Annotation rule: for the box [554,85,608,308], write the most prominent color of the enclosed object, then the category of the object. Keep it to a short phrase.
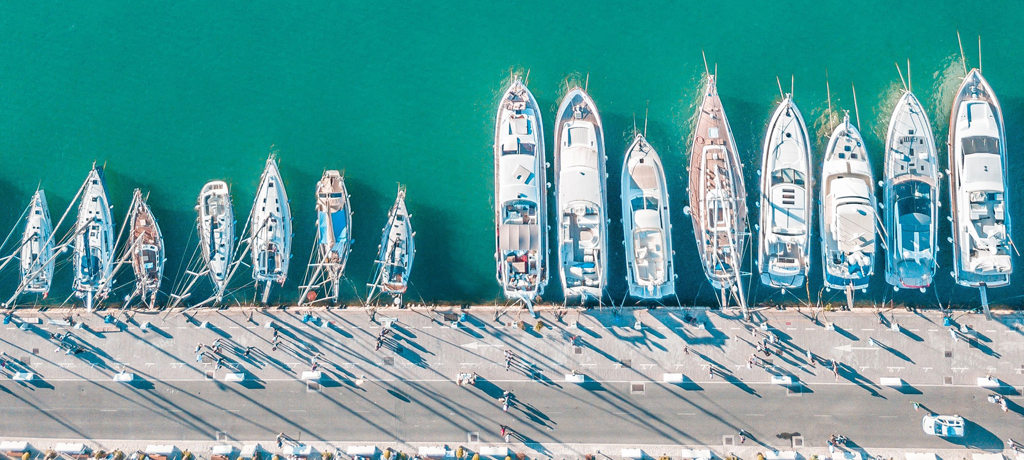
white boat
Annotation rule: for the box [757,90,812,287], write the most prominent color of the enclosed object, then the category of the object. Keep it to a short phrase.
white boat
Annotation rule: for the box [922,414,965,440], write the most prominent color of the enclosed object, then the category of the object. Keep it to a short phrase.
white car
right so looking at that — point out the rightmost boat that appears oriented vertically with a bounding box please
[948,67,1020,321]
